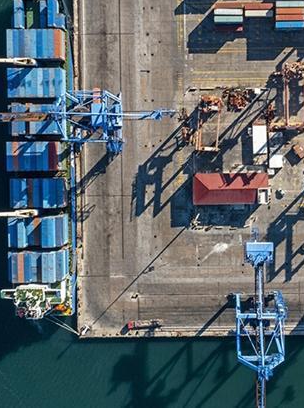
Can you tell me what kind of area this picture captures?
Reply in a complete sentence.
This looks like a port.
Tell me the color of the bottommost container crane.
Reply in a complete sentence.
The bottommost container crane is blue.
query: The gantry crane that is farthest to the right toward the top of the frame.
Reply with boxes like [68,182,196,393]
[263,62,304,133]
